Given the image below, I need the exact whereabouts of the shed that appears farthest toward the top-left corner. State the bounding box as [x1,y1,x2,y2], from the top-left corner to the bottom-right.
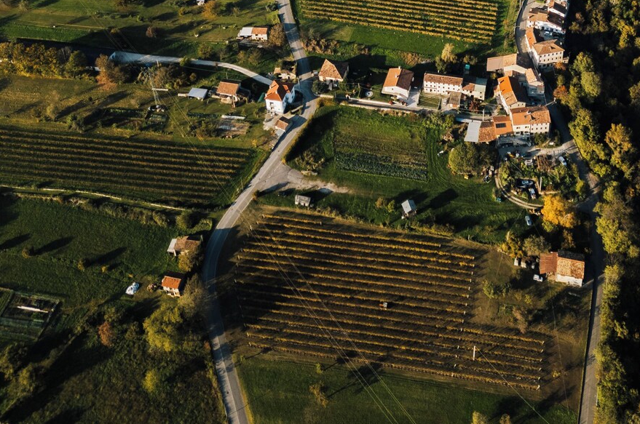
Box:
[188,77,213,95]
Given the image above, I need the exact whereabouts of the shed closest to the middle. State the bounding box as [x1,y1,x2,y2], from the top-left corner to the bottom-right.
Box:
[293,186,315,206]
